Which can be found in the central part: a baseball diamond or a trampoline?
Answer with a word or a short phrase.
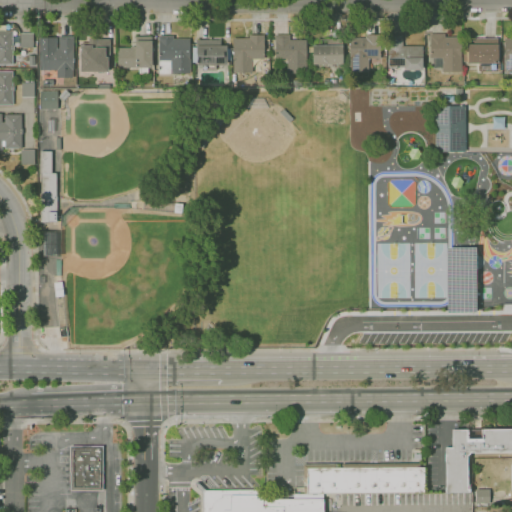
baseball diamond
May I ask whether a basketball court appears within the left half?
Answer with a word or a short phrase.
No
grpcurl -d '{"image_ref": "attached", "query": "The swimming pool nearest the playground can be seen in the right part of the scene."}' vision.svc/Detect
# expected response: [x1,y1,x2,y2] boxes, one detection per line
[403,70,422,85]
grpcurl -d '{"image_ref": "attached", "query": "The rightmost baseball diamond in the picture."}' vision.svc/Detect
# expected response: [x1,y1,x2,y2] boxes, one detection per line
[166,90,369,348]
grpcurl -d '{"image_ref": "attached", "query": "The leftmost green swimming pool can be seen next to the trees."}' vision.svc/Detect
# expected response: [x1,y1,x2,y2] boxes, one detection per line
[202,72,224,84]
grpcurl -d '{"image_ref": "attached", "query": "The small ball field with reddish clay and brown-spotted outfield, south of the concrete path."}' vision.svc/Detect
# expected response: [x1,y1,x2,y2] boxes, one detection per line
[62,207,210,350]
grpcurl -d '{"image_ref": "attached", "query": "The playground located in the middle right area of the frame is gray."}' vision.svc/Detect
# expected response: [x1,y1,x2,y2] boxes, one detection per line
[371,107,512,310]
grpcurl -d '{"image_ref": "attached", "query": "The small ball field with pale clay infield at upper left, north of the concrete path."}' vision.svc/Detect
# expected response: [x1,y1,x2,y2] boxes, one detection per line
[62,90,208,205]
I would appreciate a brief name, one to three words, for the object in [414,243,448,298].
basketball court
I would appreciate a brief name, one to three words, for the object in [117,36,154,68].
house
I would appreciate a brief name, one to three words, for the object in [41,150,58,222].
building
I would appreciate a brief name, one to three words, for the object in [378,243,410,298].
basketball court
